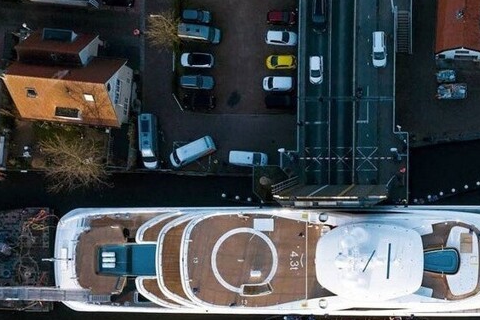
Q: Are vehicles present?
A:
Yes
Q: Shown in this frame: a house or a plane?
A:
house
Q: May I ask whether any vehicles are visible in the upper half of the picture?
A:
Yes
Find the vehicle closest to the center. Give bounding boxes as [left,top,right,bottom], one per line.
[227,150,271,168]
